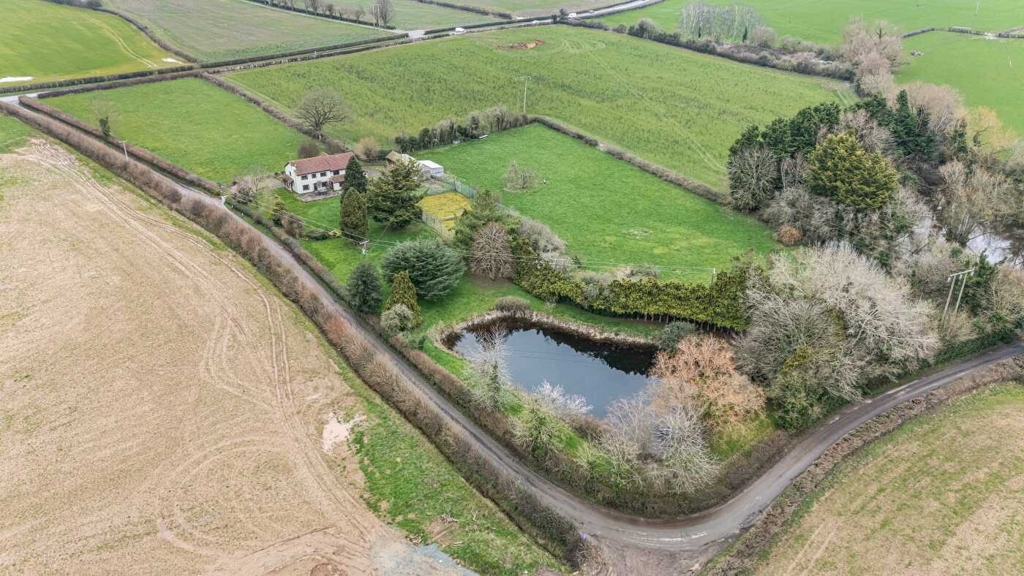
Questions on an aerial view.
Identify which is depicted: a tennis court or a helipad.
tennis court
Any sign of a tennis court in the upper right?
No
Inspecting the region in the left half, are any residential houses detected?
Yes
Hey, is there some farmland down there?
Yes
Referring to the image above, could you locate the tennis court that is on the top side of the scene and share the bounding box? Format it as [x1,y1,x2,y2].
[418,190,475,238]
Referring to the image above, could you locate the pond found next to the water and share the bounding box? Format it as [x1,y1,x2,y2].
[450,324,670,425]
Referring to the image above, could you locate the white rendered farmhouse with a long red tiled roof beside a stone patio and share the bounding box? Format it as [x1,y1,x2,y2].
[282,148,351,193]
